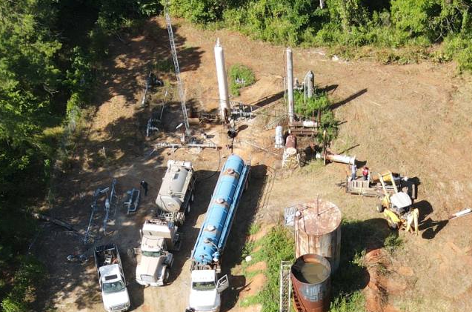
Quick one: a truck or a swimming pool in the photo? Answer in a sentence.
Of the two, only a truck appears.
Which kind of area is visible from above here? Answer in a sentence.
It's an industrial area.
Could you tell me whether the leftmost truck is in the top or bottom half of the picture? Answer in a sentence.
The leftmost truck is in the bottom half of the image.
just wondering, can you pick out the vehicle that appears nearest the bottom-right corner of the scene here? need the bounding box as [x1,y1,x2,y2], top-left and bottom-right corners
[374,177,429,238]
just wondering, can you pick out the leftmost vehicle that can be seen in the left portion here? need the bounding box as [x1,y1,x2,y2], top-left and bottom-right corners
[93,245,132,312]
